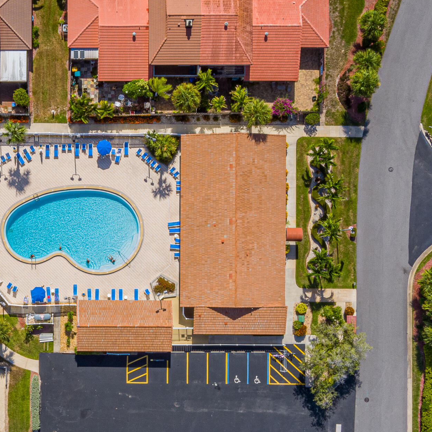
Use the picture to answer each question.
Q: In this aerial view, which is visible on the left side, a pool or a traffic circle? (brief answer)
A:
pool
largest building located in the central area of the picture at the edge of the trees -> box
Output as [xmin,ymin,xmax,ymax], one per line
[180,132,303,334]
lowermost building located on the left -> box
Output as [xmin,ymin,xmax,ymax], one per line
[76,300,173,354]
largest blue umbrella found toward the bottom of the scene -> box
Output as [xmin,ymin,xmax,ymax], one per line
[30,287,46,302]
